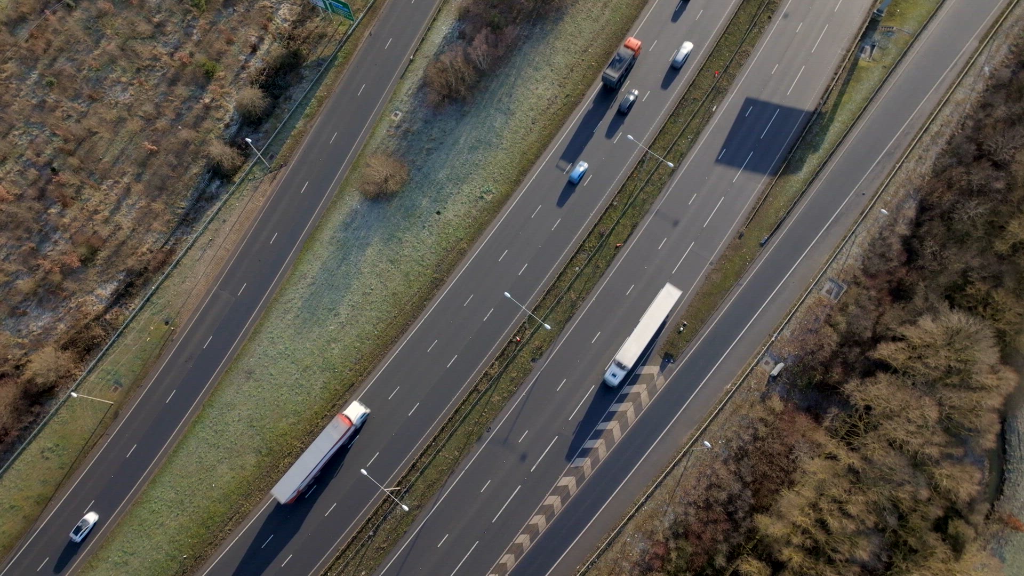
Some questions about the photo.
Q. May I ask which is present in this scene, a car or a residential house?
car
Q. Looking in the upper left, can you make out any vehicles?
No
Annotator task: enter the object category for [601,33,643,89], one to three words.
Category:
truck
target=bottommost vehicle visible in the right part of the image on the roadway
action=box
[601,283,682,388]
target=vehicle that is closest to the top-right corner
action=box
[671,44,693,70]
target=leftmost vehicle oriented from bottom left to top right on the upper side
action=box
[569,161,588,185]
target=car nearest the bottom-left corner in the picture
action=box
[70,511,100,545]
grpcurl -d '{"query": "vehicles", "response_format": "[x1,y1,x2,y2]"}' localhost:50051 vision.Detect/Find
[601,33,643,89]
[671,44,693,70]
[601,283,682,388]
[618,89,639,115]
[70,511,100,545]
[569,161,588,185]
[272,396,371,502]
